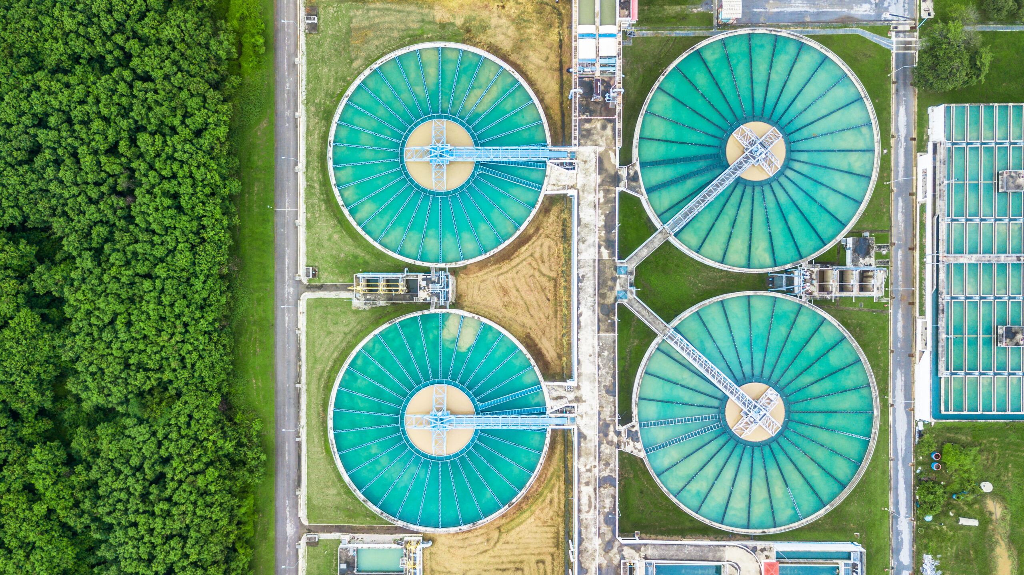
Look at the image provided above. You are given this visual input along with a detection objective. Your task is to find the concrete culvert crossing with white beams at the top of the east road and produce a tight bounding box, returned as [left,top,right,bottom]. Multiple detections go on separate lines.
[889,22,928,54]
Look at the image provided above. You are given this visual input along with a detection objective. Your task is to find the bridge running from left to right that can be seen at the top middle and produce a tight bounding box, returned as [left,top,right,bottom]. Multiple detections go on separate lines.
[403,117,568,190]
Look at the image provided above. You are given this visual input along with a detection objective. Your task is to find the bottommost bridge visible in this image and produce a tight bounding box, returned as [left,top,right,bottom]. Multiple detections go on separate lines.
[403,386,568,459]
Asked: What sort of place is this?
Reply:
industrial area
